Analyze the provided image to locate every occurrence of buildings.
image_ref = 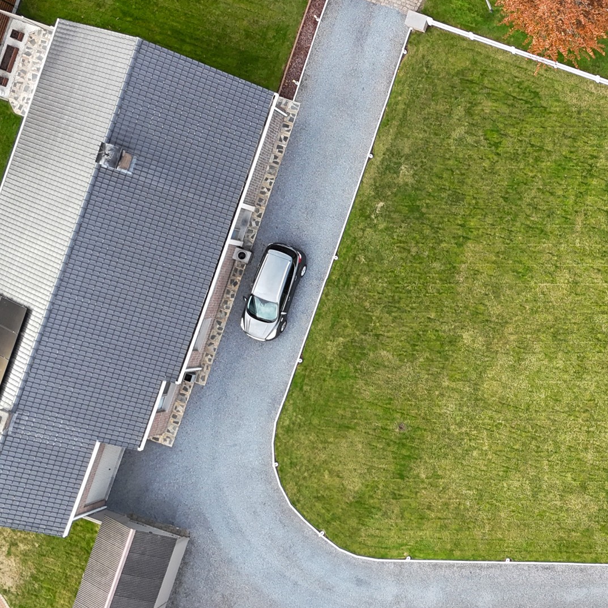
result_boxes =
[0,17,286,541]
[73,515,188,608]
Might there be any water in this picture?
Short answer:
No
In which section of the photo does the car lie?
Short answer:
center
